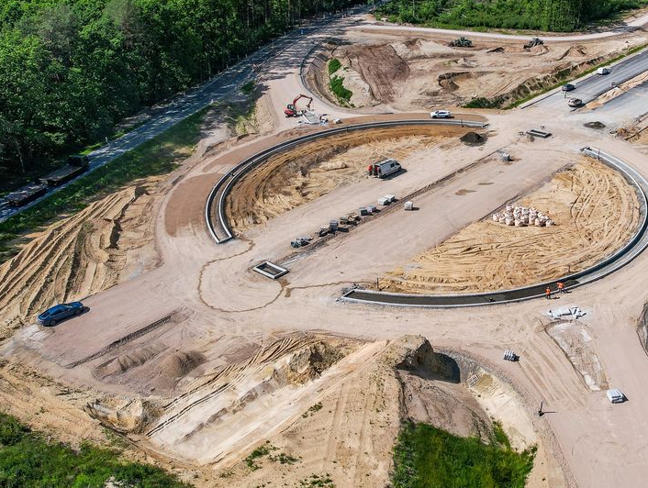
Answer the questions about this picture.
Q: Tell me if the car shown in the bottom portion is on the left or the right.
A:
left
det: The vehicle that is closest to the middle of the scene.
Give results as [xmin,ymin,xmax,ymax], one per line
[365,154,405,178]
